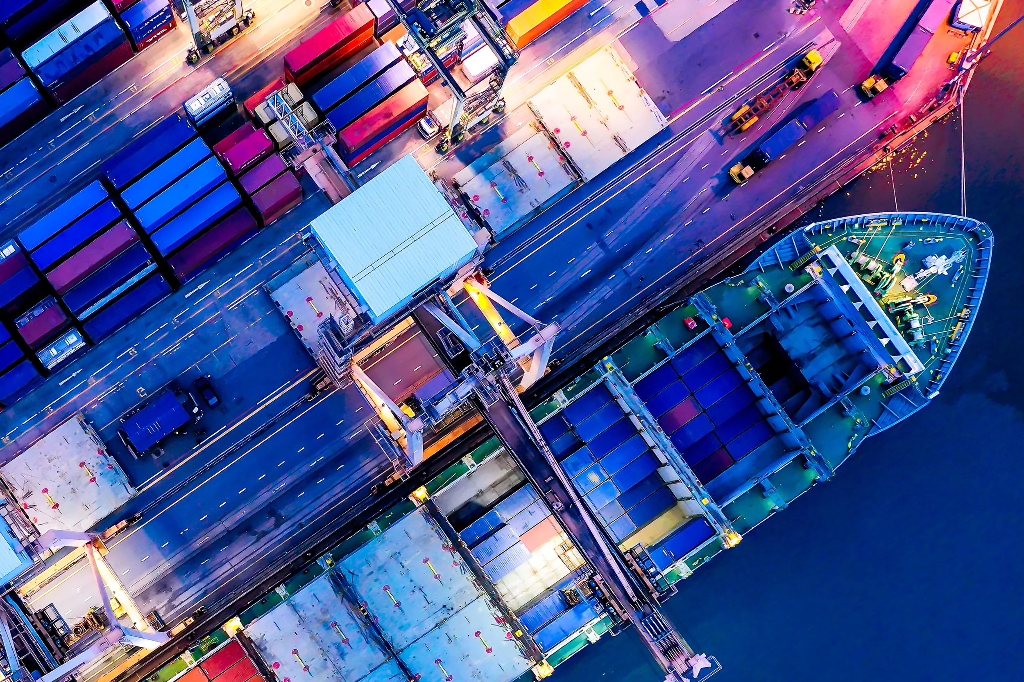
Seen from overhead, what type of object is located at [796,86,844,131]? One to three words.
shipping container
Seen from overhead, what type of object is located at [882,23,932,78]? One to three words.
shipping container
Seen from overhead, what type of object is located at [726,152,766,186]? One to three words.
truck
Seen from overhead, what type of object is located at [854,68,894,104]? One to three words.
truck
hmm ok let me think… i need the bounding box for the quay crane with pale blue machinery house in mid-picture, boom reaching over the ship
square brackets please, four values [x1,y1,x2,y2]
[259,67,728,682]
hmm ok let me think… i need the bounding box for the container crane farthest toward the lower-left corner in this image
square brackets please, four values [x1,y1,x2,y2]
[0,514,197,682]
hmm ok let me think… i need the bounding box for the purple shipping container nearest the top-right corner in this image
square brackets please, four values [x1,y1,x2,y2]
[908,0,954,33]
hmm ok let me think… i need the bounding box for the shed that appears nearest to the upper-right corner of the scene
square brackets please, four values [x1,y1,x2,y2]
[949,0,992,34]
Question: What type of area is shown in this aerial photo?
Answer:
port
